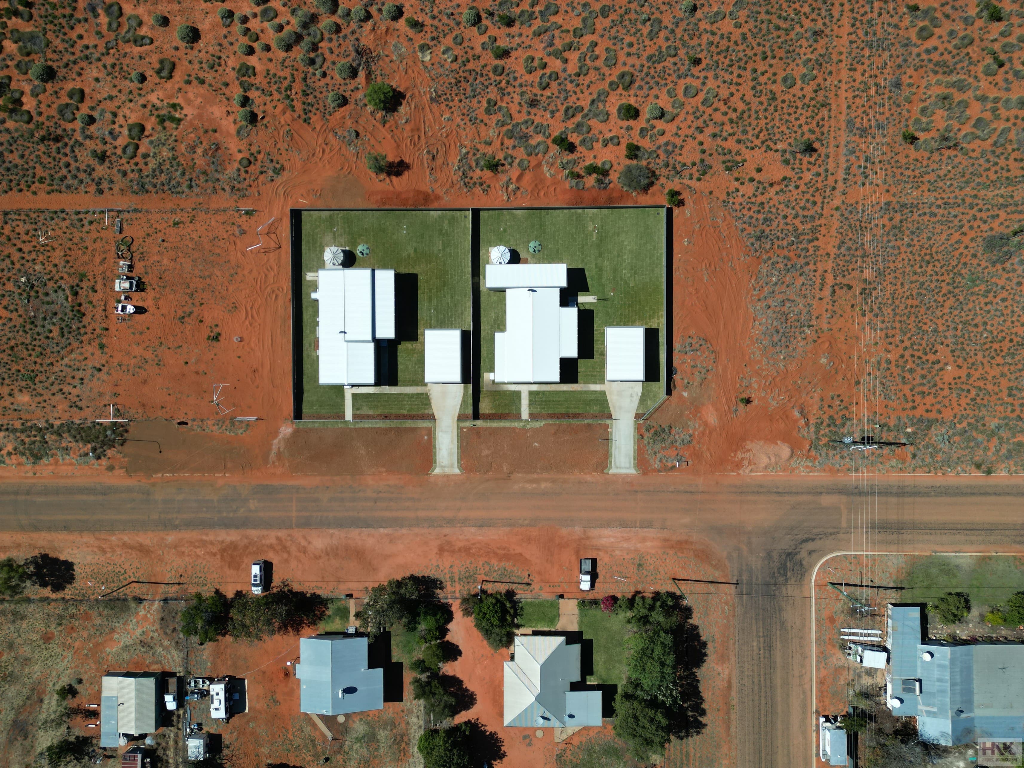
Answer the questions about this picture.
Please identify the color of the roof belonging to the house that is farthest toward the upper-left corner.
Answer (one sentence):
The roof over the house that is farthest toward the upper-left corner appears white.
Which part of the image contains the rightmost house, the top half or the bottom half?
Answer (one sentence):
Seen from above, the rightmost house lies in the bottom half of the view.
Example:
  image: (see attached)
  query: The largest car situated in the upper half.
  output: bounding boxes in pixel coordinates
[113,278,137,291]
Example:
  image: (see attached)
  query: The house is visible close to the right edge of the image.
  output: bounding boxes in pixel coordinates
[882,604,1024,746]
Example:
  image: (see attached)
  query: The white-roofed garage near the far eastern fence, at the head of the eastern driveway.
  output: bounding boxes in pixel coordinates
[606,326,645,381]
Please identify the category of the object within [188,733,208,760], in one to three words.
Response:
shed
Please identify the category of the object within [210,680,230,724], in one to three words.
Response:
camper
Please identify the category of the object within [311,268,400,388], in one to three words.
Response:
house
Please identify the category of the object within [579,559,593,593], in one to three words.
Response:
vehicle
